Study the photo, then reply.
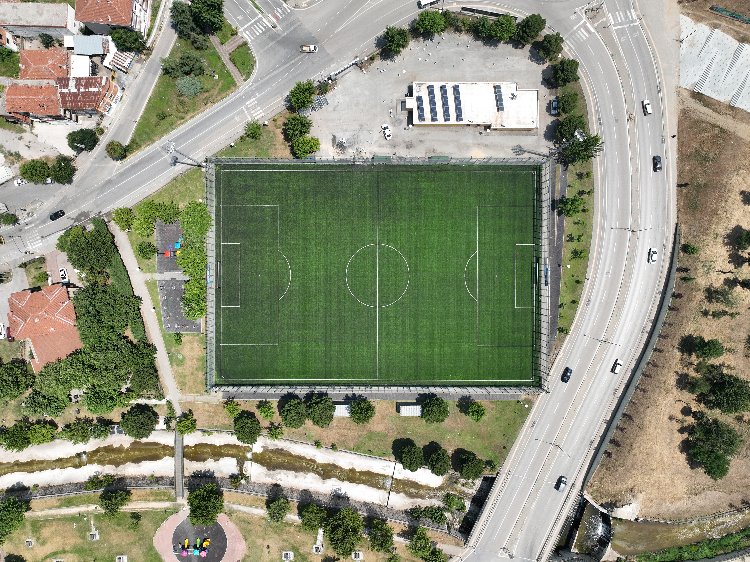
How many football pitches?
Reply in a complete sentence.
In total, there is 1 football pitch in the scene.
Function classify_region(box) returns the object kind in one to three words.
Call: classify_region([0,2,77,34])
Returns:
building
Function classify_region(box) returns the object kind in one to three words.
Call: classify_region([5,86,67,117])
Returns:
house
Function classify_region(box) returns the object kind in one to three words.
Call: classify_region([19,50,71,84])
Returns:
house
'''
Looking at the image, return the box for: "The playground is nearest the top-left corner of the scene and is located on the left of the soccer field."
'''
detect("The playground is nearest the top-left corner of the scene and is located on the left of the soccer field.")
[156,212,194,272]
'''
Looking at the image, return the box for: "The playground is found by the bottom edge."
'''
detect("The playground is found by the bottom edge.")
[173,517,226,562]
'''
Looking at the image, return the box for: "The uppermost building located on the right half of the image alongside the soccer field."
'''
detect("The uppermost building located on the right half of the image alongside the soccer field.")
[412,81,539,132]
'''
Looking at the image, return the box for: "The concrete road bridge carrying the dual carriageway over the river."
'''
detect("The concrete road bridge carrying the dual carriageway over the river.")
[466,448,589,562]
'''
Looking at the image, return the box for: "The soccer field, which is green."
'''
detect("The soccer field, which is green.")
[215,165,542,387]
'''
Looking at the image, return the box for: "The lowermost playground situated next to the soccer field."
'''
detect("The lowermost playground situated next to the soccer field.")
[158,281,202,333]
